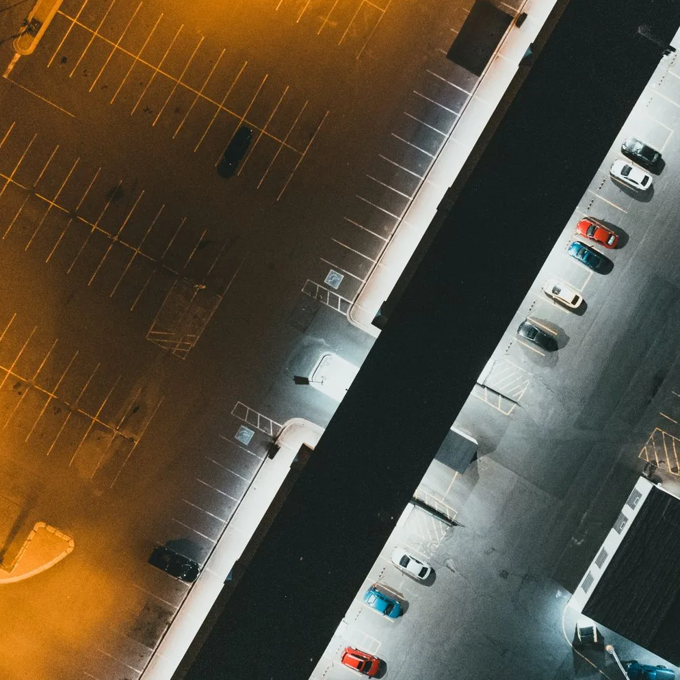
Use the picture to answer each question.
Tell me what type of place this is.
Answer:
parking lot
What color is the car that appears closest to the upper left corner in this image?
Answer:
black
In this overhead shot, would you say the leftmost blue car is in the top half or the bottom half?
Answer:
bottom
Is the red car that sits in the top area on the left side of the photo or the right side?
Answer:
right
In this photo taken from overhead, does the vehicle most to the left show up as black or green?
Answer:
black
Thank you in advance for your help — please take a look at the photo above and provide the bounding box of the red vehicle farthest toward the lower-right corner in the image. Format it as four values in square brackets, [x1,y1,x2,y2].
[340,644,383,679]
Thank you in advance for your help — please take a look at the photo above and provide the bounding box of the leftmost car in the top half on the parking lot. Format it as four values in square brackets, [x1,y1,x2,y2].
[217,125,257,175]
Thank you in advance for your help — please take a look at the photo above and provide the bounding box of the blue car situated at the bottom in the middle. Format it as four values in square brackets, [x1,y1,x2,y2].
[364,585,404,617]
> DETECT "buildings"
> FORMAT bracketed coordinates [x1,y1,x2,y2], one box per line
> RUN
[574,477,680,671]
[165,0,680,680]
